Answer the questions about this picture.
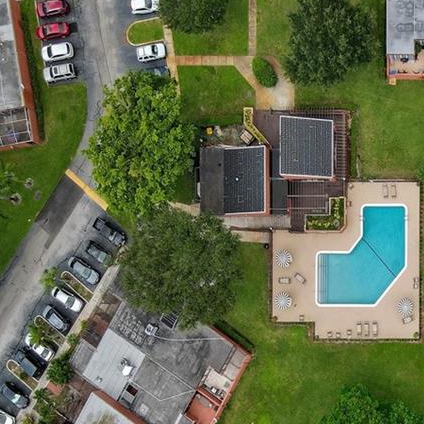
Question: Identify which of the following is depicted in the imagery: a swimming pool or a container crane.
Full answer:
Looking from above, you can make out a swimming pool.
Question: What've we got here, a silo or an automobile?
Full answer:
It is an automobile that can be seen here.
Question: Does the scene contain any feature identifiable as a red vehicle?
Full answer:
Yes, there's a red vehicle down there.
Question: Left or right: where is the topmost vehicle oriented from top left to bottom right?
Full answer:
It is on the left.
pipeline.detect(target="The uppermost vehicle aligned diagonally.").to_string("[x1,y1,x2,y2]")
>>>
[90,214,127,247]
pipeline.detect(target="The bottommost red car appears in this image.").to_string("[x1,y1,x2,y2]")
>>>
[37,23,72,42]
